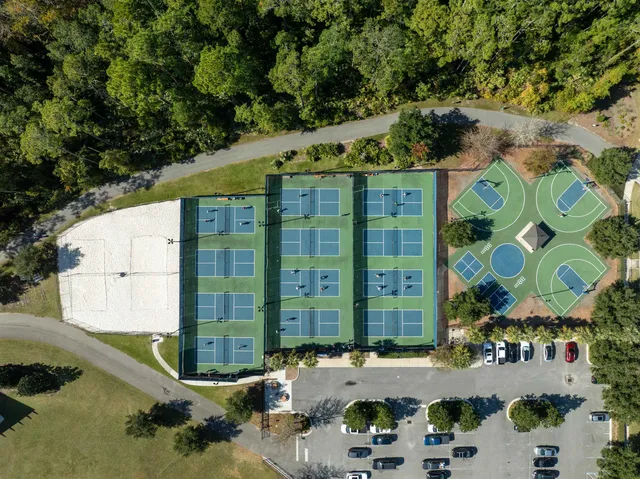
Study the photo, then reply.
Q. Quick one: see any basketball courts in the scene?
Yes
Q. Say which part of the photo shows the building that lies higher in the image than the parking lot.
right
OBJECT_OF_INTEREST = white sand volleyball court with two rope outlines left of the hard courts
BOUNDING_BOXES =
[57,198,183,336]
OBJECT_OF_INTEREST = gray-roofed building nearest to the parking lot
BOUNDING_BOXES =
[515,221,549,253]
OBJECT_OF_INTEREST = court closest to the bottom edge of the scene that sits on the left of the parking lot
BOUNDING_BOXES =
[183,329,266,375]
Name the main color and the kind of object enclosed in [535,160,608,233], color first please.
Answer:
green basketball court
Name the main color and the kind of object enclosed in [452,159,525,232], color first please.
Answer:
green basketball court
